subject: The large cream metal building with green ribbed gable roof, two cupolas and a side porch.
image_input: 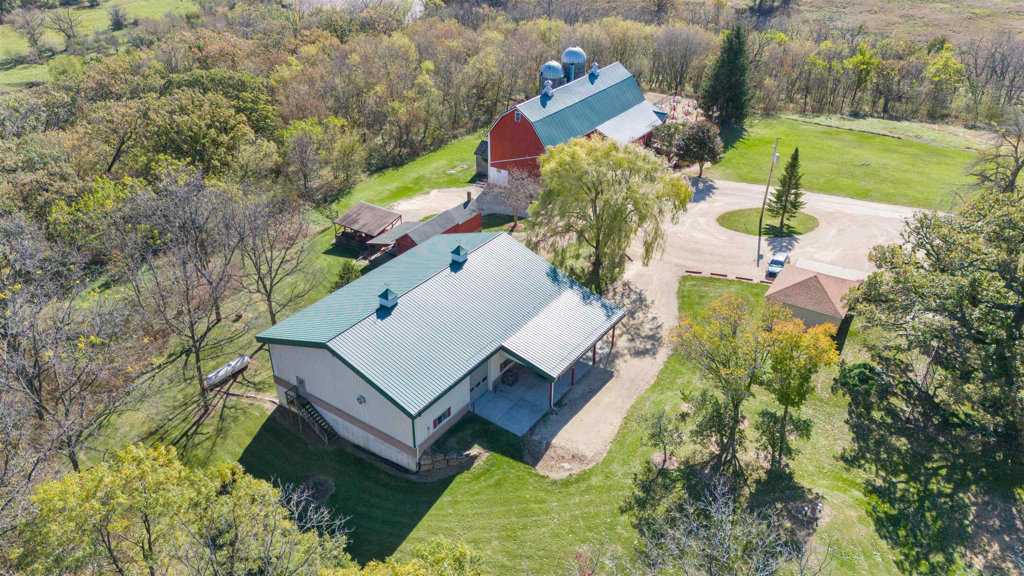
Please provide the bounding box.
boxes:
[257,232,628,472]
